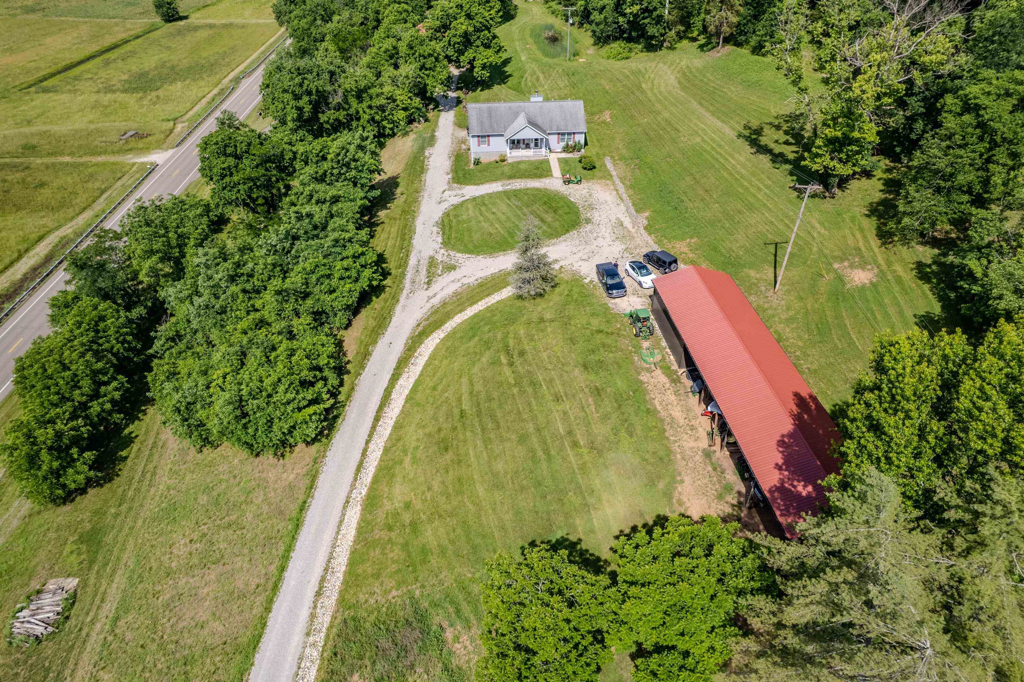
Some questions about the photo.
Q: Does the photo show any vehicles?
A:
Yes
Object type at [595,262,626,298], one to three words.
truck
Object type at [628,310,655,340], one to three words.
work vehicle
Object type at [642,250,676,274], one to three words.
car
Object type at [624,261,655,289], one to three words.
car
